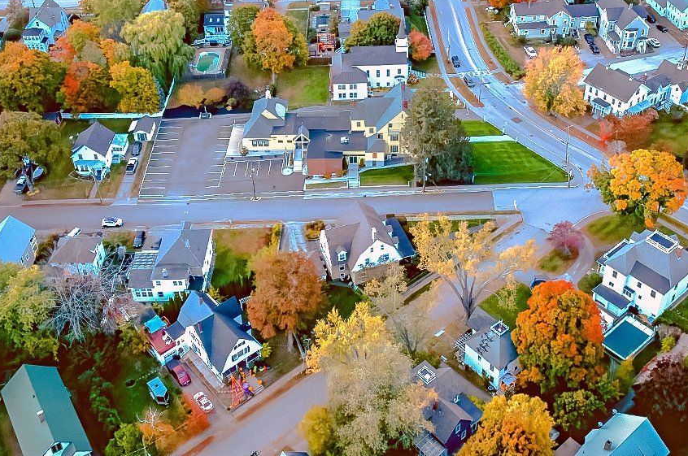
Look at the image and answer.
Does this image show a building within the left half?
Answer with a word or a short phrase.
Yes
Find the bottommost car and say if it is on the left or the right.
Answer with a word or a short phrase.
left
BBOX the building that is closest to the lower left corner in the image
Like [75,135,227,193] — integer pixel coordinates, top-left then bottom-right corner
[1,364,91,456]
